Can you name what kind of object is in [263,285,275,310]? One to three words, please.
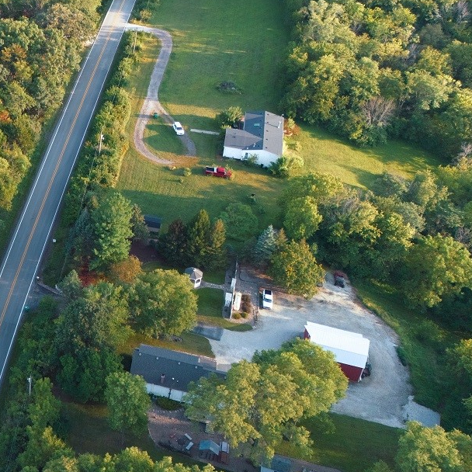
vehicle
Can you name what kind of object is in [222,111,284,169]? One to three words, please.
house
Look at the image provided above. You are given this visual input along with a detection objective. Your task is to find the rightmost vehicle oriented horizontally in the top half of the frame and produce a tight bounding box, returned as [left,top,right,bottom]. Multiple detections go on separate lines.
[206,165,231,177]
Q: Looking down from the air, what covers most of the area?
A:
trees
